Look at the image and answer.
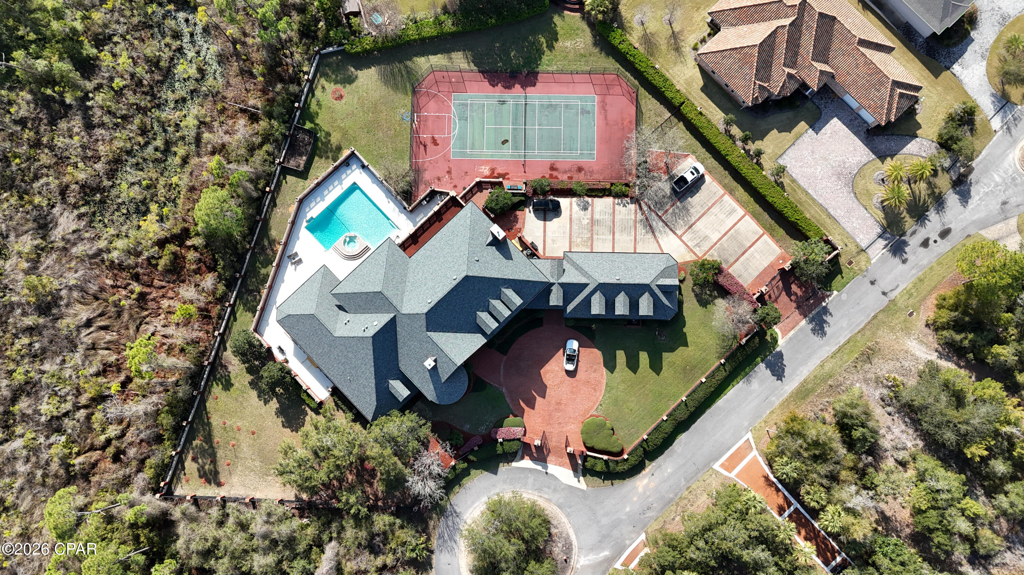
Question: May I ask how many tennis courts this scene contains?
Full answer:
Just 1 tennis court appears in this view.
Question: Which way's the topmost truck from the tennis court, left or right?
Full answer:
The topmost truck can be seen on the right of the tennis court.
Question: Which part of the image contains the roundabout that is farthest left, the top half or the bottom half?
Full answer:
Seen from above, the roundabout that is farthest left lies in the bottom half of the view.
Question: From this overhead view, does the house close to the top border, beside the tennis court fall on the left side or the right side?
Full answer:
It is on the right.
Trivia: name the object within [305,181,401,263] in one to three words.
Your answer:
swimming pool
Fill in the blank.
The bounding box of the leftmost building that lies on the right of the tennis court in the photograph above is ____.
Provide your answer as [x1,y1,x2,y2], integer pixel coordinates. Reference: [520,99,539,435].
[696,0,922,130]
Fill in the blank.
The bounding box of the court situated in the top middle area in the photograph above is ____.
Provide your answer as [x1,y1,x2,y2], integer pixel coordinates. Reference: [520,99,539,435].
[407,64,640,207]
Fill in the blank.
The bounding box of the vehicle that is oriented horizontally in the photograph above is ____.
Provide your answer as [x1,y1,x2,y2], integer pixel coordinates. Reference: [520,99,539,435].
[531,197,561,211]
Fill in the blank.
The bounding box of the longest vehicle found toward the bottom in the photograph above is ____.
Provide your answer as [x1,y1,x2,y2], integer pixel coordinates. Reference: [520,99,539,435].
[564,339,579,371]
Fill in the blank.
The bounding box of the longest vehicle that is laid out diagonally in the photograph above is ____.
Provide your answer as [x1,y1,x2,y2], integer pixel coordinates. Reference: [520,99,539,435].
[670,162,705,194]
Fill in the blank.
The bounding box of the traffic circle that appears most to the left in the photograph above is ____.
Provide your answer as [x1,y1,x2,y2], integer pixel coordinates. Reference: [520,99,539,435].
[459,490,577,575]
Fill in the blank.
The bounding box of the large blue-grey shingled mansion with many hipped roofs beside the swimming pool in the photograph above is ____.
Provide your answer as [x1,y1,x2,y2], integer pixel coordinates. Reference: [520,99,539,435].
[276,200,679,423]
